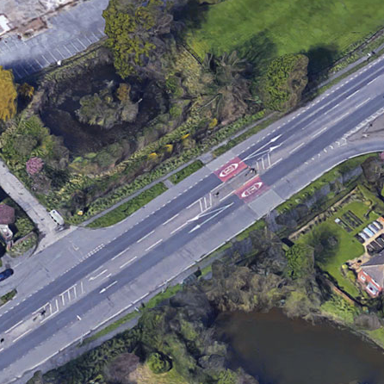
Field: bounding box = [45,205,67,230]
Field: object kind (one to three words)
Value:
vehicle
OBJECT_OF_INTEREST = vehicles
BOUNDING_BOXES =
[45,205,67,230]
[0,268,13,282]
